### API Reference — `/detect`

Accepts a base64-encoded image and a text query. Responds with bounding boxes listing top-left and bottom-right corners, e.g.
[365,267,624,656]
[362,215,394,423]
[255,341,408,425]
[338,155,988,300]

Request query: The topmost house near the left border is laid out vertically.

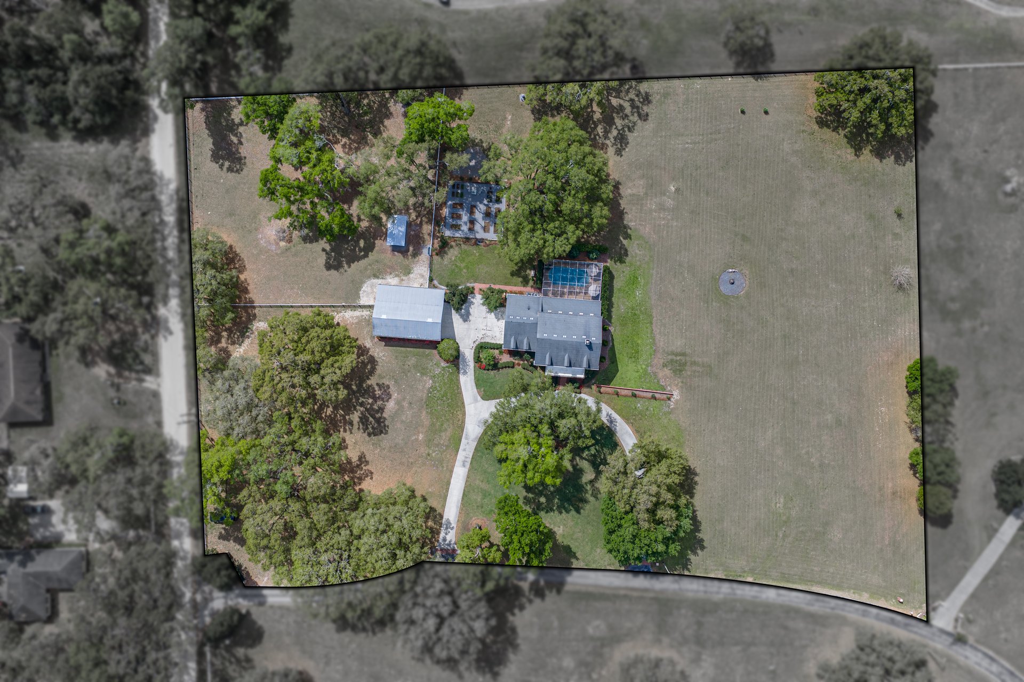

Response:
[0,323,46,423]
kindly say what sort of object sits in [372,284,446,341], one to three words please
barn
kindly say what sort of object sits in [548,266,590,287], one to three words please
swimming pool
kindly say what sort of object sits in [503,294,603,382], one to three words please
house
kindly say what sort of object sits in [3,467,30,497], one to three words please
shed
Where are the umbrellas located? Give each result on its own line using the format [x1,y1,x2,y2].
[589,285,600,296]
[587,264,599,276]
